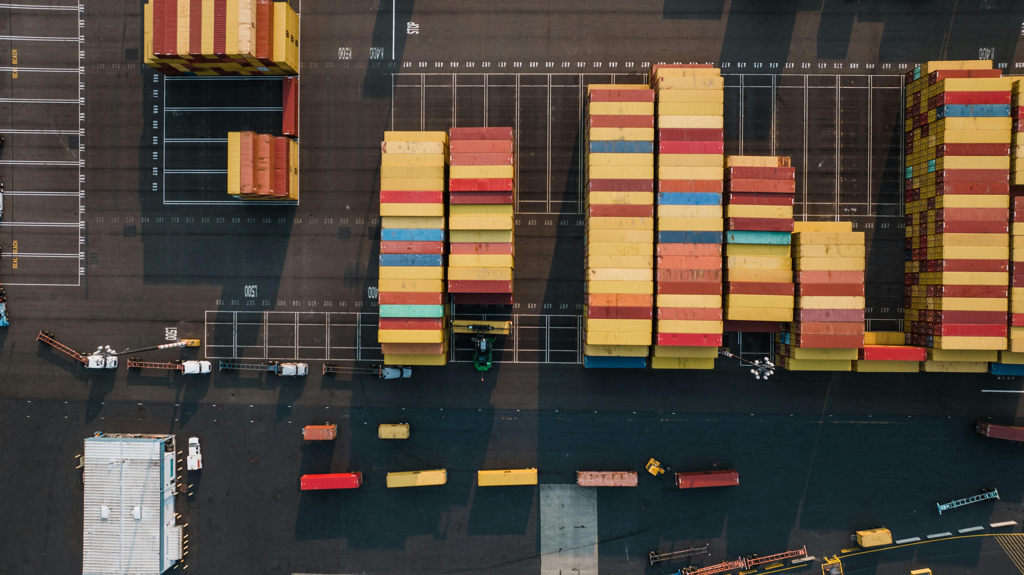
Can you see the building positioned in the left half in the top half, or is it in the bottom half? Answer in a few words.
bottom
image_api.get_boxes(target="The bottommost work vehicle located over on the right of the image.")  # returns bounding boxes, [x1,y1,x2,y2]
[645,458,668,477]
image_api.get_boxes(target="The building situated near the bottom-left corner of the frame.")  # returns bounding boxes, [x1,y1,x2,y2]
[81,434,187,575]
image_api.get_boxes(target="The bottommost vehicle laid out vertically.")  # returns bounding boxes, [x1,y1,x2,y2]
[188,435,202,470]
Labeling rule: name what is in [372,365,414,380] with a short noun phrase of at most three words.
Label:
vehicle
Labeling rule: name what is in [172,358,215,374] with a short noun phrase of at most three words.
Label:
vehicle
